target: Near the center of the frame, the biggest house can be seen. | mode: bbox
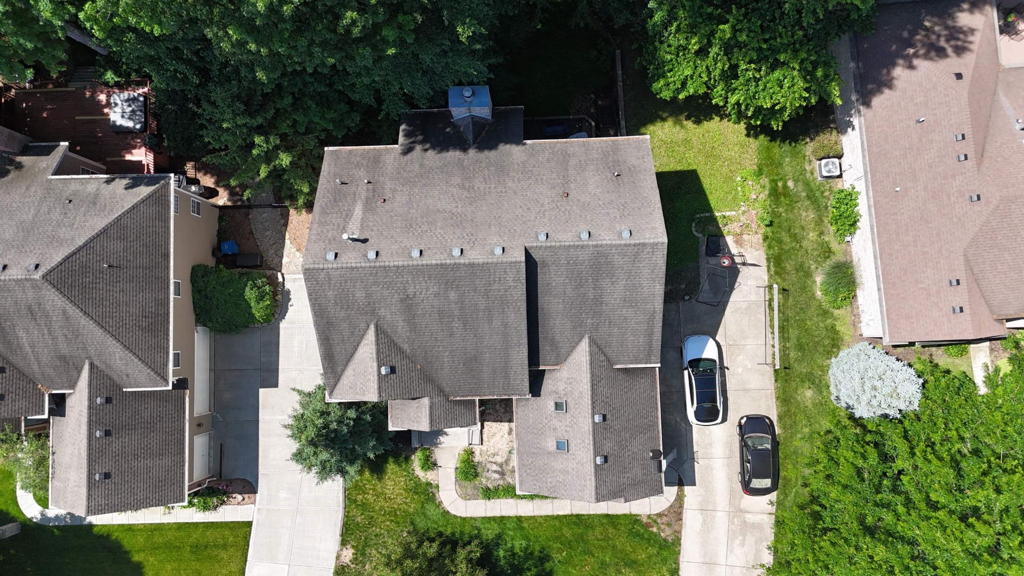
[303,85,669,502]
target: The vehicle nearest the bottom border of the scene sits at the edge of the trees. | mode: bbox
[736,413,778,497]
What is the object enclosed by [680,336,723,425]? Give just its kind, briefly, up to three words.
car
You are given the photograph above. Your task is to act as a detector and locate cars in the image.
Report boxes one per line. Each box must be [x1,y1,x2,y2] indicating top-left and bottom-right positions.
[680,336,723,425]
[736,413,778,497]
